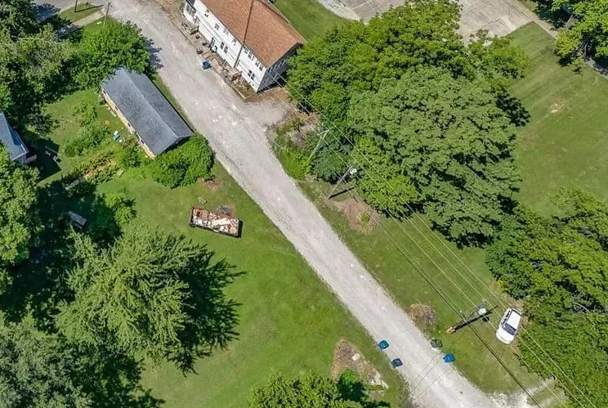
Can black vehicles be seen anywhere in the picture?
No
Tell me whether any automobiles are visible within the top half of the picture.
No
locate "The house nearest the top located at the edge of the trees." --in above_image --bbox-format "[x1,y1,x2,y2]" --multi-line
[180,0,308,92]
